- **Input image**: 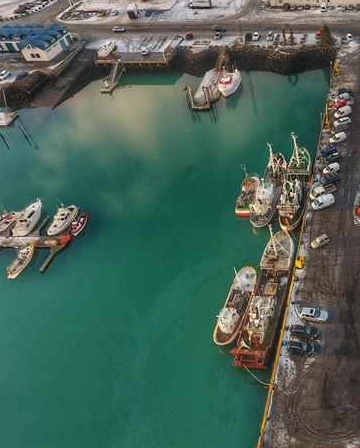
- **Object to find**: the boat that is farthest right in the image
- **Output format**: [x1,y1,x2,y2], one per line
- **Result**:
[276,116,310,236]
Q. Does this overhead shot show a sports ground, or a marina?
marina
